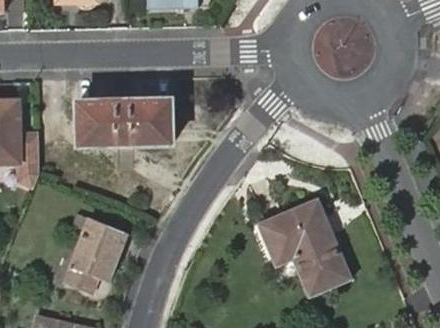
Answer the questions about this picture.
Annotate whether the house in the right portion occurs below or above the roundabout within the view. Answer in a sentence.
In the image, the house in the right portion appears below the roundabout.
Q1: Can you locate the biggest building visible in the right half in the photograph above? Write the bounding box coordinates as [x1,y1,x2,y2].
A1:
[256,198,355,298]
